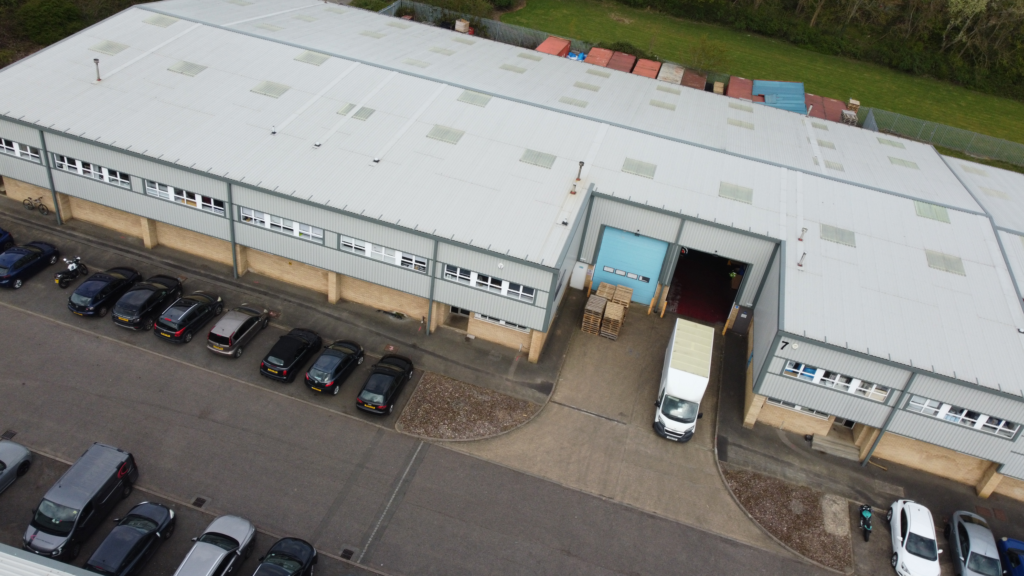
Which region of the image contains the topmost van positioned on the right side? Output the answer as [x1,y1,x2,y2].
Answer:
[650,317,716,439]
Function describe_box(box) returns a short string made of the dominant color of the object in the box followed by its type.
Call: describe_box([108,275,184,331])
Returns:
black car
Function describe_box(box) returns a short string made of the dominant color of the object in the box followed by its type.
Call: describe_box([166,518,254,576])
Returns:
gray car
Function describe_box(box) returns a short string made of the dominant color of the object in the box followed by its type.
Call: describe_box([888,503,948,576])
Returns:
white car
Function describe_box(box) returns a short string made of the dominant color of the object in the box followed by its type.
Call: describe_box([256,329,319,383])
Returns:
black car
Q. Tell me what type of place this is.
industrial area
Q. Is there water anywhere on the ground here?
No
